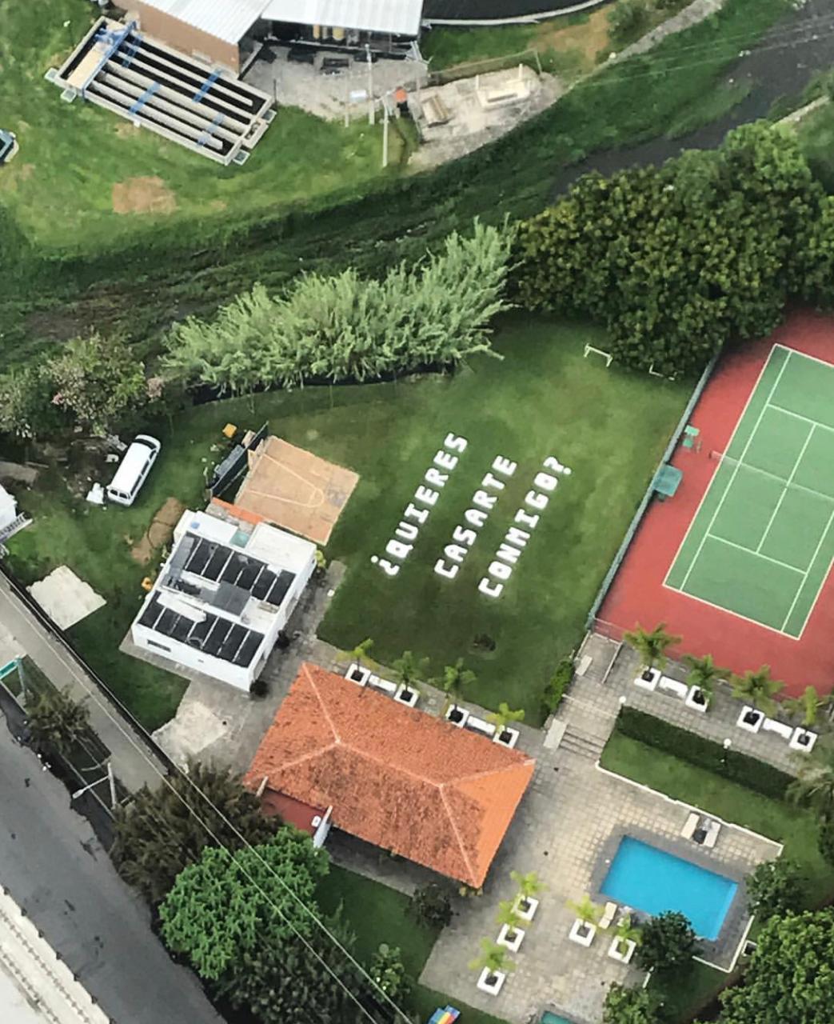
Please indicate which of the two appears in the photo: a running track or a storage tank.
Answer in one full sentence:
Visible in the photo is a storage tank.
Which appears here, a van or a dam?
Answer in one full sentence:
Of the two, only a van appears.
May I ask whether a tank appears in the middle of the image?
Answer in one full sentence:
No, there is no tank in the middle of the image.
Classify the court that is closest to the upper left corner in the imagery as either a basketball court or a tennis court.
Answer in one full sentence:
From above, the court that is closest to the upper left corner can be identified as a basketball court.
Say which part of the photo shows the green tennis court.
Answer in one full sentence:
You can find the green tennis court in the right area of the picture.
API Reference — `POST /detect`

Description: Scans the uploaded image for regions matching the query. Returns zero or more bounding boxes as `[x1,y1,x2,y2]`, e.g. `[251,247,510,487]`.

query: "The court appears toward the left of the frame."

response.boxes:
[234,436,359,544]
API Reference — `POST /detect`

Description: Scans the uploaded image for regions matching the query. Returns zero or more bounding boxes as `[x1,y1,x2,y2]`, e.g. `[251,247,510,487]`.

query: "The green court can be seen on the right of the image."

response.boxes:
[593,257,834,730]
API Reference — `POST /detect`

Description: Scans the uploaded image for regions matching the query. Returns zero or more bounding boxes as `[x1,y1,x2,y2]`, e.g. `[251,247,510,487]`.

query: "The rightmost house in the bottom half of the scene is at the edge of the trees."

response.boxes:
[241,660,537,889]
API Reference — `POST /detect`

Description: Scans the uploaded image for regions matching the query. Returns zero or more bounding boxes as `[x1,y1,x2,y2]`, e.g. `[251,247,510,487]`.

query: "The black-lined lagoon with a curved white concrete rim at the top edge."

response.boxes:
[425,0,611,25]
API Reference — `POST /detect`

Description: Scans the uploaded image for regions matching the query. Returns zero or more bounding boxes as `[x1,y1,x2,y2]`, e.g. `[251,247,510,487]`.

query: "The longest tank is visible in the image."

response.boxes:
[42,15,284,172]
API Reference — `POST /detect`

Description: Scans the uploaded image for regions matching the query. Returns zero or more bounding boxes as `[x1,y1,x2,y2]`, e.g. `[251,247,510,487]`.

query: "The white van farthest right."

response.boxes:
[106,443,155,511]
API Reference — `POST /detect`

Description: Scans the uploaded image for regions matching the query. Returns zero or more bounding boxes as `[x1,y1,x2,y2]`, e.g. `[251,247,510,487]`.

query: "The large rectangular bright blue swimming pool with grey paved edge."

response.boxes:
[587,821,751,954]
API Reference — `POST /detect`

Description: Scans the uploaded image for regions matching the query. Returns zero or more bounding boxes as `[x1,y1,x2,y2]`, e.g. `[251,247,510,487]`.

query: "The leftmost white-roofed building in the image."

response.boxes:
[0,485,33,556]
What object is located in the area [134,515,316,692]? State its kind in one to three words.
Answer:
house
